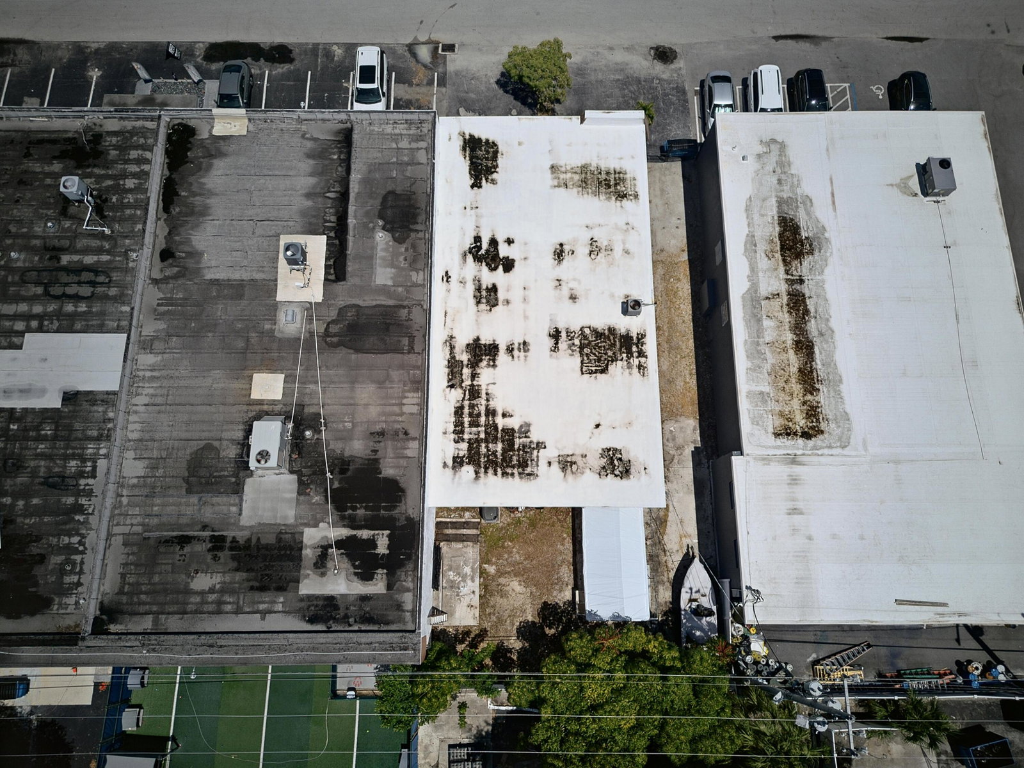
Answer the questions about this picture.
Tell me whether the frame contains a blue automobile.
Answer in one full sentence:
No, I can see no blue automobile in this picture.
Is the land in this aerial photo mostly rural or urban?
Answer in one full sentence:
The area is urban.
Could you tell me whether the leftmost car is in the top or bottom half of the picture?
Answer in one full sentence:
The top half of the photo is where the leftmost car is.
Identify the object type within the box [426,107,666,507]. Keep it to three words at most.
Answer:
building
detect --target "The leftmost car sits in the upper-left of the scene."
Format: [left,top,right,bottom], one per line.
[213,64,256,111]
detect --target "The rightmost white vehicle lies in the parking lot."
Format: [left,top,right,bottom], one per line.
[744,68,783,111]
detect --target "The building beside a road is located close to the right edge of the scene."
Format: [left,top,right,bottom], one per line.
[700,111,1024,623]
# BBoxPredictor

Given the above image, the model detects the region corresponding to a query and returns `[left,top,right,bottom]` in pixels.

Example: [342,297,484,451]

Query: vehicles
[213,64,256,111]
[889,74,934,111]
[701,73,736,136]
[788,72,829,111]
[744,68,783,111]
[350,49,389,111]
